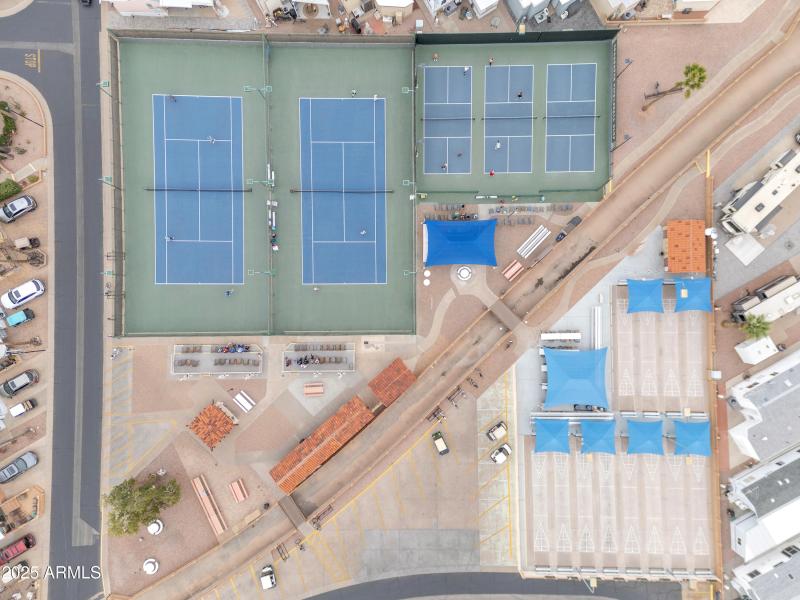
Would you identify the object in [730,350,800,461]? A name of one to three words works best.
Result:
house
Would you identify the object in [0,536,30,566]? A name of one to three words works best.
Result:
car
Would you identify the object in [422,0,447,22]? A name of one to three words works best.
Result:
vehicle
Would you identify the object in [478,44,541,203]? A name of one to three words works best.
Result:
sports court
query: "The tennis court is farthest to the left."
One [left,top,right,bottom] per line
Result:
[123,41,271,334]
